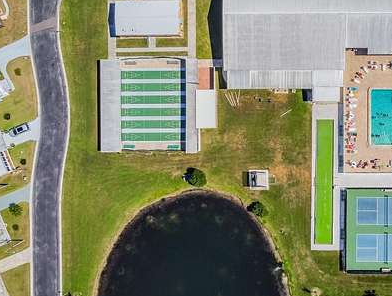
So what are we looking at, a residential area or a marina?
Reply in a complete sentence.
What you see here is a residential area.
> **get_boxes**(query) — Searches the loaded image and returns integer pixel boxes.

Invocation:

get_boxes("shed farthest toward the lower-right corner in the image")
[250,171,271,190]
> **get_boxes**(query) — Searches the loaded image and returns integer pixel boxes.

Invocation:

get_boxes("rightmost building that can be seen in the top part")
[222,0,392,103]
